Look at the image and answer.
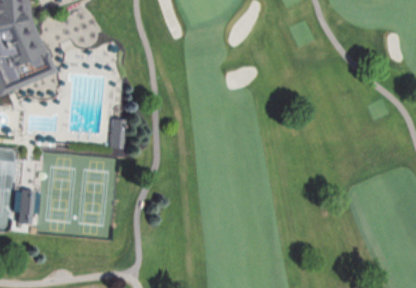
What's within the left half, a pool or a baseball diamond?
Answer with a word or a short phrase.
pool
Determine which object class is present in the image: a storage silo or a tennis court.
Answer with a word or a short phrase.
tennis court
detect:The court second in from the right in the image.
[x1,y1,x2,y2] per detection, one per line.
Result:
[38,154,80,236]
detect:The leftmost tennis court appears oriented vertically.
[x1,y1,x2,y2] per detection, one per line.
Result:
[0,150,15,232]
